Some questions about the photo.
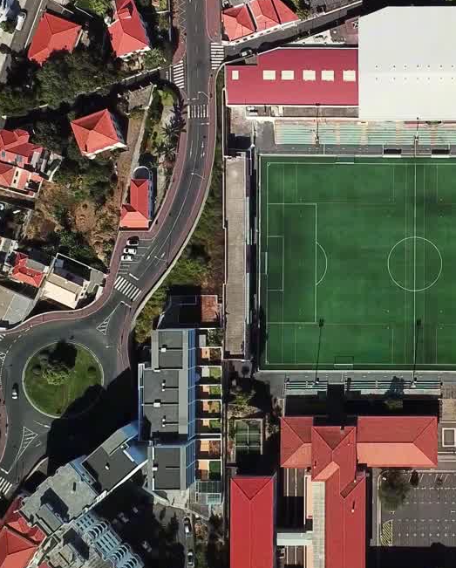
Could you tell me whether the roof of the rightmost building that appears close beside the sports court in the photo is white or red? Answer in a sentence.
The color of the roof of the rightmost building that appears close beside the sports court is red.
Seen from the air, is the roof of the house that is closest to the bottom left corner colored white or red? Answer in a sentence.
The roof of the house that is closest to the bottom left corner looks red in the image.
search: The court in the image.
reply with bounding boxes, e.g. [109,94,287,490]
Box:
[233,418,262,456]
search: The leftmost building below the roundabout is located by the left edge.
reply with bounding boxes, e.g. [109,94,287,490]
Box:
[0,495,50,568]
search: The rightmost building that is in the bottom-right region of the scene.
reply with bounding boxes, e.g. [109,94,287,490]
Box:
[280,414,437,568]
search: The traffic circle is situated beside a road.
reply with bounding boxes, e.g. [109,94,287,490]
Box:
[0,316,127,443]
